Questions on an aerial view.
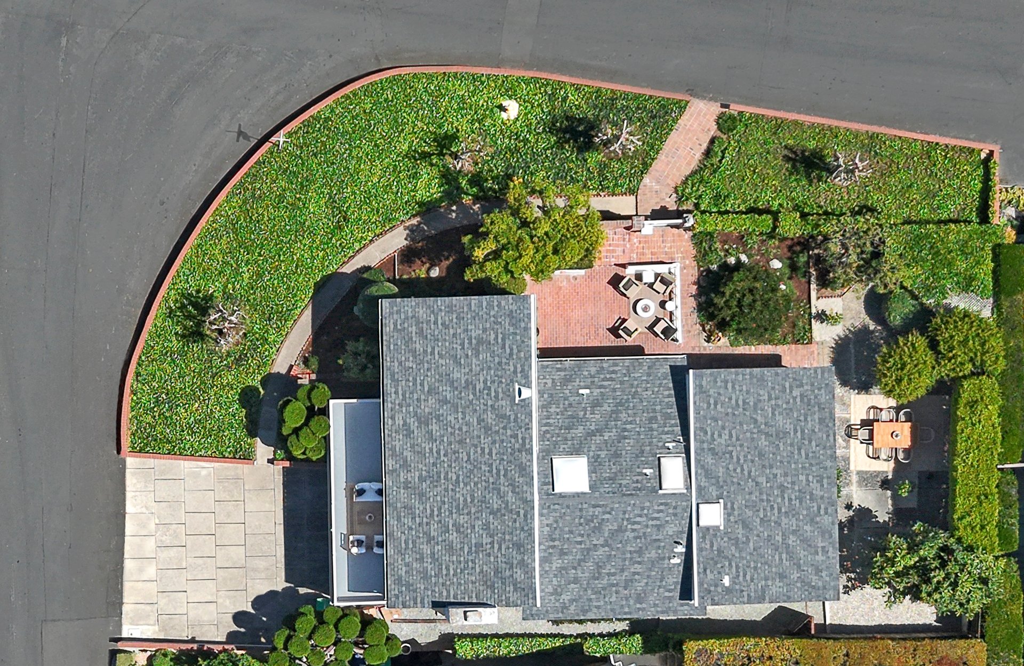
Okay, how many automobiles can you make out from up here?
none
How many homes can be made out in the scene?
one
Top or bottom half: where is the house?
bottom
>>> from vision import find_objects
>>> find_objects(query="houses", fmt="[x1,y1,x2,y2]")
[324,294,840,624]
